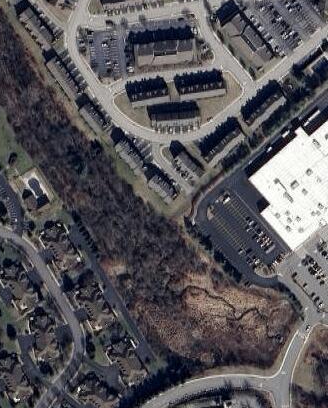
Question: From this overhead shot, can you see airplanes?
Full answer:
No, there appears to be no airplane in this shot.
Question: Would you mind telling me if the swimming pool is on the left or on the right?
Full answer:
The swimming pool sits on the left side.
